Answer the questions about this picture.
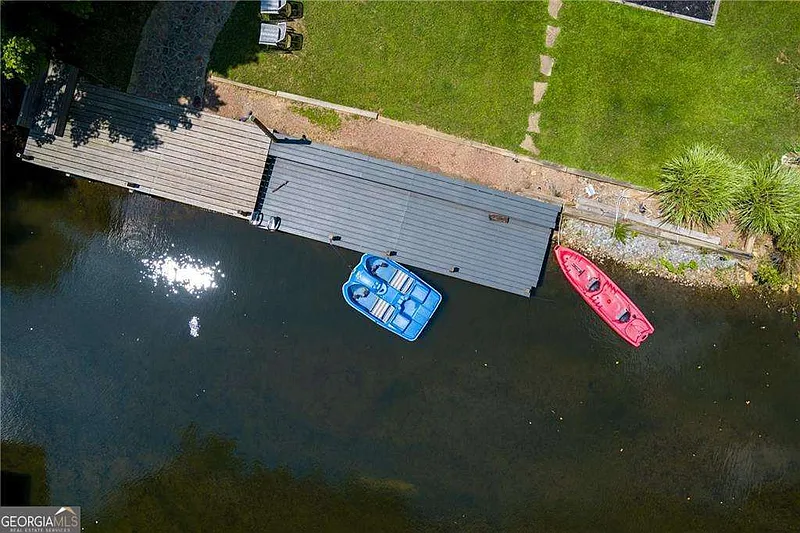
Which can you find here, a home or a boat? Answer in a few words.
boat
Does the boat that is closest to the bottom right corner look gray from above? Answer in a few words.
No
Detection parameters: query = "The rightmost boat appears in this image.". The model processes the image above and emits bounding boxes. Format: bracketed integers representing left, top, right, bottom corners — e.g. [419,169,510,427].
[555,246,653,345]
